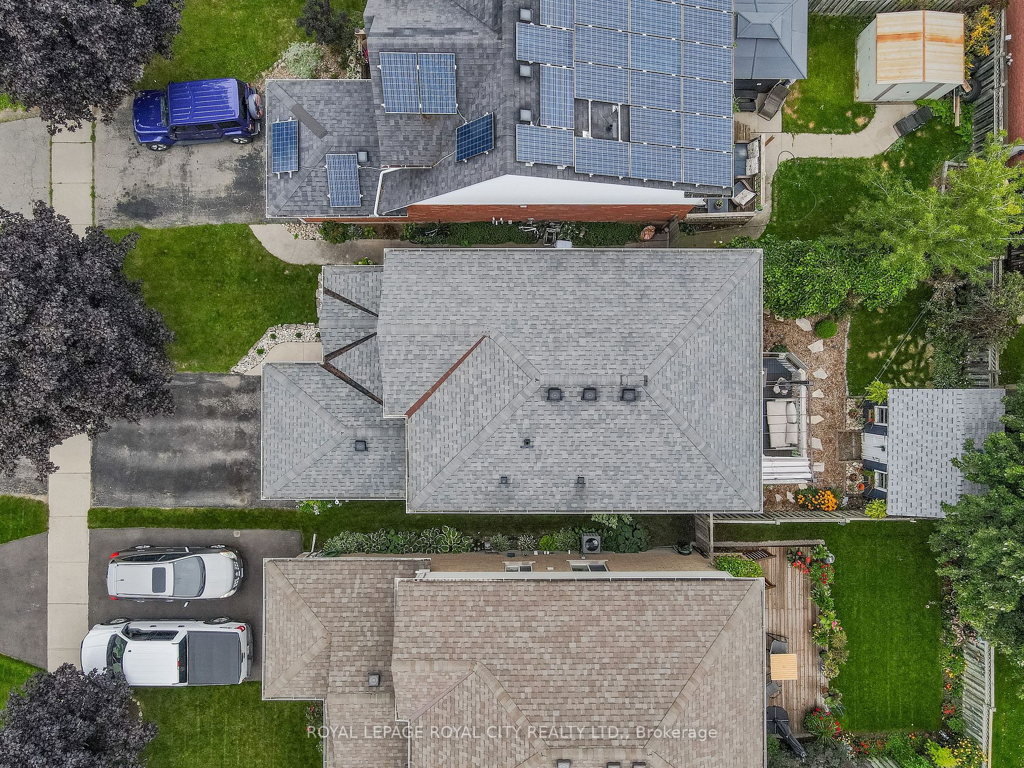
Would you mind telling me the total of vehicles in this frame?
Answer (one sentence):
My tally gives 3 vehicles in this view.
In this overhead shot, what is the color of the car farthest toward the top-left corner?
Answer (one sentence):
From above, the car farthest toward the top-left corner appears blue.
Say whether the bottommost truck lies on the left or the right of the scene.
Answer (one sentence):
It is on the left.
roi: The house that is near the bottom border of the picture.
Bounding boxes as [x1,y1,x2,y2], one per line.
[262,553,765,768]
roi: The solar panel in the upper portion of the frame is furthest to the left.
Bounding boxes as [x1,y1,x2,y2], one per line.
[270,119,296,172]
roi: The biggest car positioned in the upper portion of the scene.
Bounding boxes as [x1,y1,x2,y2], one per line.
[130,78,260,151]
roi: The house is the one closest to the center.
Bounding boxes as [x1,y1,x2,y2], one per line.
[261,248,764,514]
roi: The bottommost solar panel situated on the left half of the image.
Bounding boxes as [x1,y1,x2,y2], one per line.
[325,154,360,207]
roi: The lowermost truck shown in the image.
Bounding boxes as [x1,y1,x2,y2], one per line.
[81,614,254,692]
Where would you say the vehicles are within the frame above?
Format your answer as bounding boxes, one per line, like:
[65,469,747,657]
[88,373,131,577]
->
[81,614,254,692]
[103,543,245,609]
[130,78,260,151]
